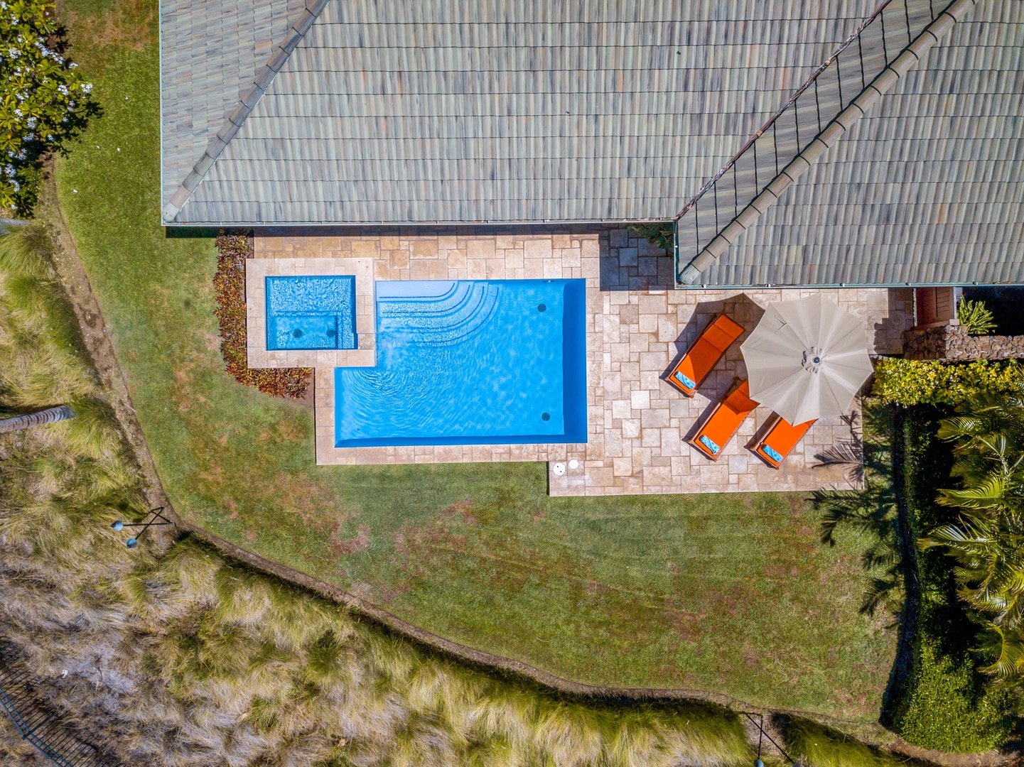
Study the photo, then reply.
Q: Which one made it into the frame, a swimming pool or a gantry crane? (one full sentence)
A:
Visible in the photo is a swimming pool.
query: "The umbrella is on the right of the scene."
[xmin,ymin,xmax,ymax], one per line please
[740,293,873,425]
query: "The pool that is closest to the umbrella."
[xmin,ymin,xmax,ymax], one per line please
[315,277,606,465]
